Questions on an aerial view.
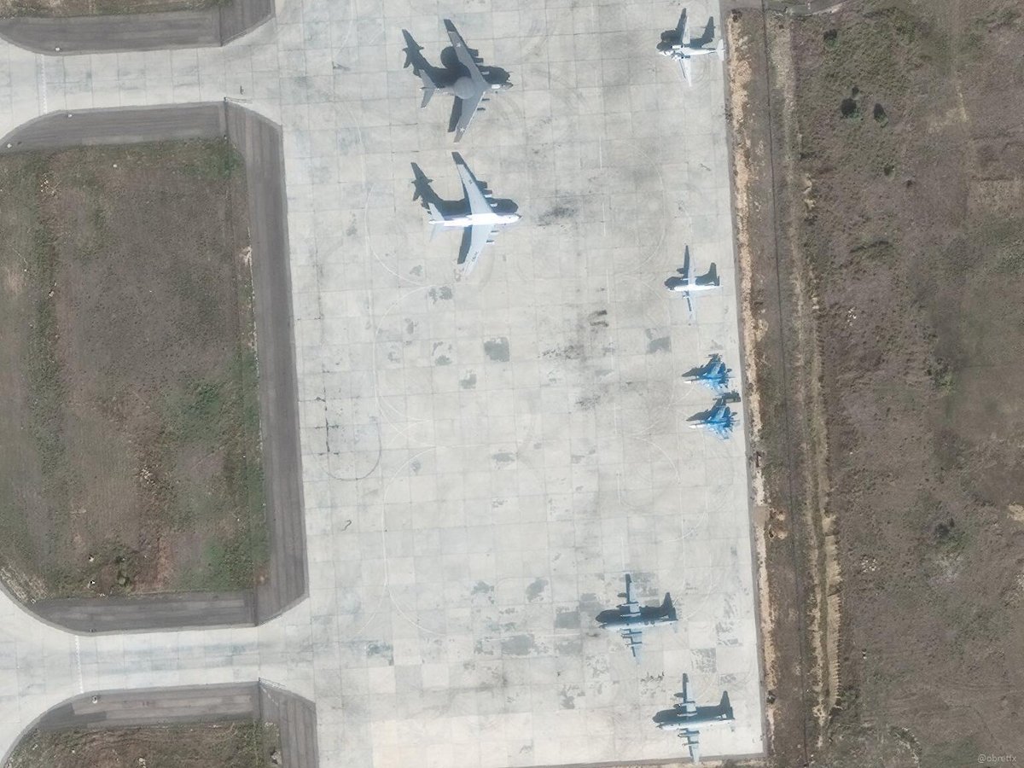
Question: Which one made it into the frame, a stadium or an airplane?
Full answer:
There is an airplane in the scene.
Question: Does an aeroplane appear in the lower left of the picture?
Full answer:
No, looking in the lower left of the picture, there is no aeroplane.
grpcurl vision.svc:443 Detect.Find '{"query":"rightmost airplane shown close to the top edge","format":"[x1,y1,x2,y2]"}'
[659,17,727,86]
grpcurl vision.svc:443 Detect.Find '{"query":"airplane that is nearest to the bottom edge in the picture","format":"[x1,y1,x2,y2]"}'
[657,682,736,764]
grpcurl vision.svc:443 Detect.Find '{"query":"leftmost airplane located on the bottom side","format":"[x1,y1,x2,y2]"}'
[599,583,677,665]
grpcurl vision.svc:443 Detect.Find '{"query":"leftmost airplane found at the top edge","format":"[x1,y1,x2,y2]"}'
[418,33,517,144]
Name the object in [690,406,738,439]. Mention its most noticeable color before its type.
blue airplane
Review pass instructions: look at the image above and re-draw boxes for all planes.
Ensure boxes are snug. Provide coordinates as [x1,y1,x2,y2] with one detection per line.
[684,362,733,395]
[599,583,677,665]
[690,406,738,439]
[418,33,517,144]
[657,682,736,764]
[427,166,522,276]
[659,17,727,86]
[669,256,722,320]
